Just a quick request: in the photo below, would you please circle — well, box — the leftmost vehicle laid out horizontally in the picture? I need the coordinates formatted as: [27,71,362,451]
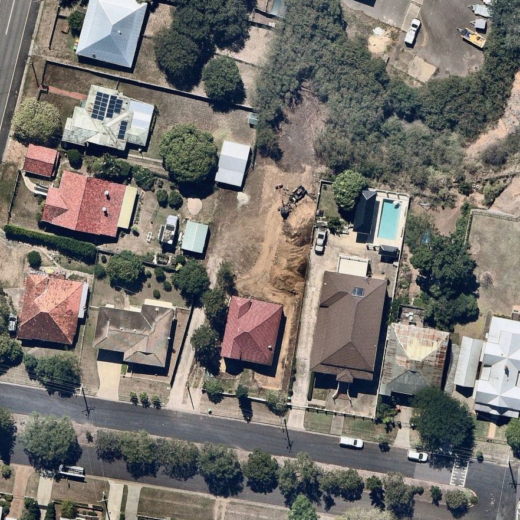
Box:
[59,464,85,478]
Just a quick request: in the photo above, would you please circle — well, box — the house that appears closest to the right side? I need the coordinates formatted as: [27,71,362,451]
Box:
[472,316,520,419]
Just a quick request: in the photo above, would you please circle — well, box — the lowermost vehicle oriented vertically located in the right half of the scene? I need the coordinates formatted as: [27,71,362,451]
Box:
[314,227,326,251]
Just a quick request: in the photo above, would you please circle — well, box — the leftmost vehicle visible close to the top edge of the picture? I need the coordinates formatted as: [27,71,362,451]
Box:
[405,18,420,44]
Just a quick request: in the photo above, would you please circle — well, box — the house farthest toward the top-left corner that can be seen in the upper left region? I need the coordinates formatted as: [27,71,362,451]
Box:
[75,0,148,69]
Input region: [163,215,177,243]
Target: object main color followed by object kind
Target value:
white vehicle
